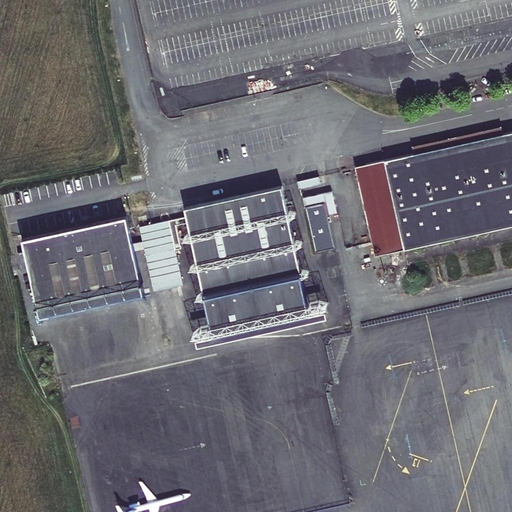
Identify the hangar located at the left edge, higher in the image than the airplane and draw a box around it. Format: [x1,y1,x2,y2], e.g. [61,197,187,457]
[16,218,147,322]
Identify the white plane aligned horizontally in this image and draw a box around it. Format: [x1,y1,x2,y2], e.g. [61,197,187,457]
[116,481,191,512]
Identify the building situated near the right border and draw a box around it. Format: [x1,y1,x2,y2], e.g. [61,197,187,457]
[356,128,512,256]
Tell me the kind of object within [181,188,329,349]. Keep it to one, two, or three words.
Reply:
hangar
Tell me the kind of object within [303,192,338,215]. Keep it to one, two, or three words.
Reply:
building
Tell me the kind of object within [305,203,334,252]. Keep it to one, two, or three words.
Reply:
building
